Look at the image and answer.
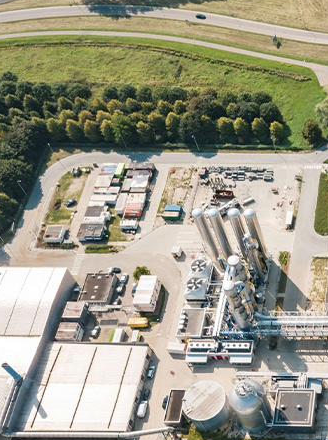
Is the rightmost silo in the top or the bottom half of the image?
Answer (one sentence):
The rightmost silo is in the bottom half of the image.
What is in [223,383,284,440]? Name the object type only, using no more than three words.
silo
